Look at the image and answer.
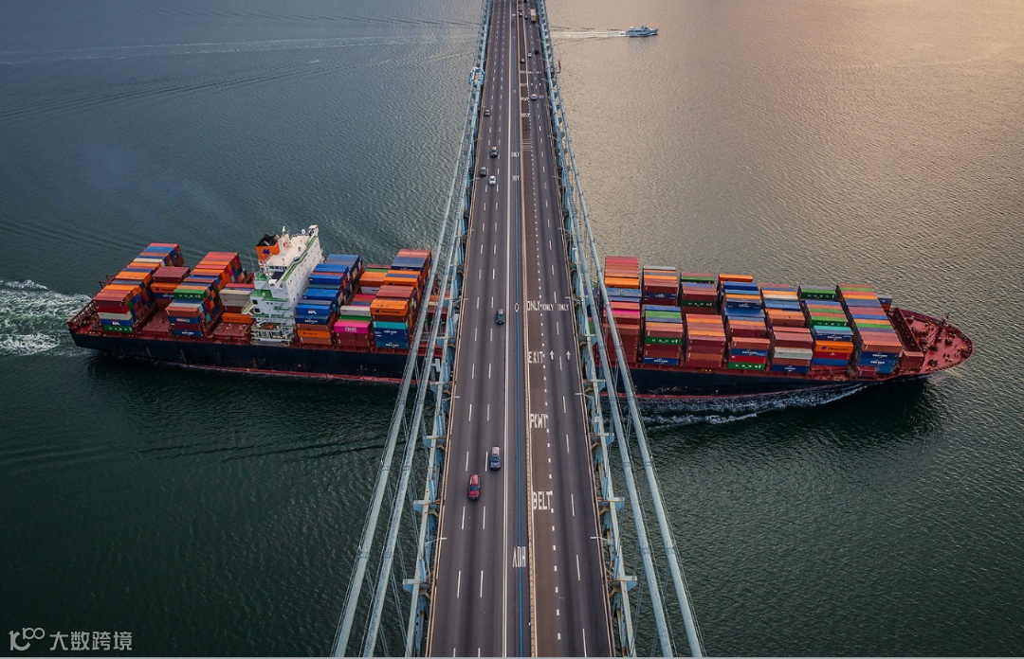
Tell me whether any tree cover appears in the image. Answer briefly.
No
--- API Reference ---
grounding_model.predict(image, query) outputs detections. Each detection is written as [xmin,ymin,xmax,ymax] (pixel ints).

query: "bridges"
[323,0,714,659]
